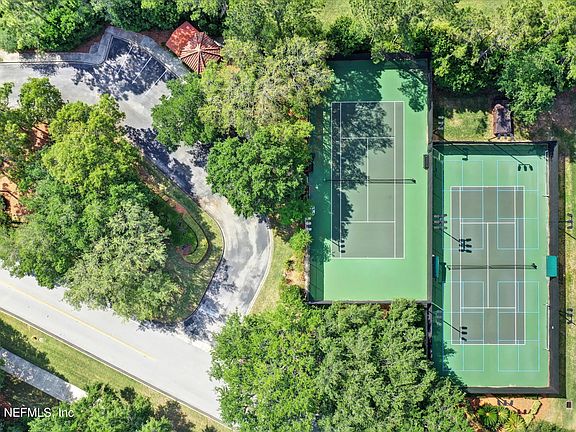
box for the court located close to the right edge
[433,143,549,387]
